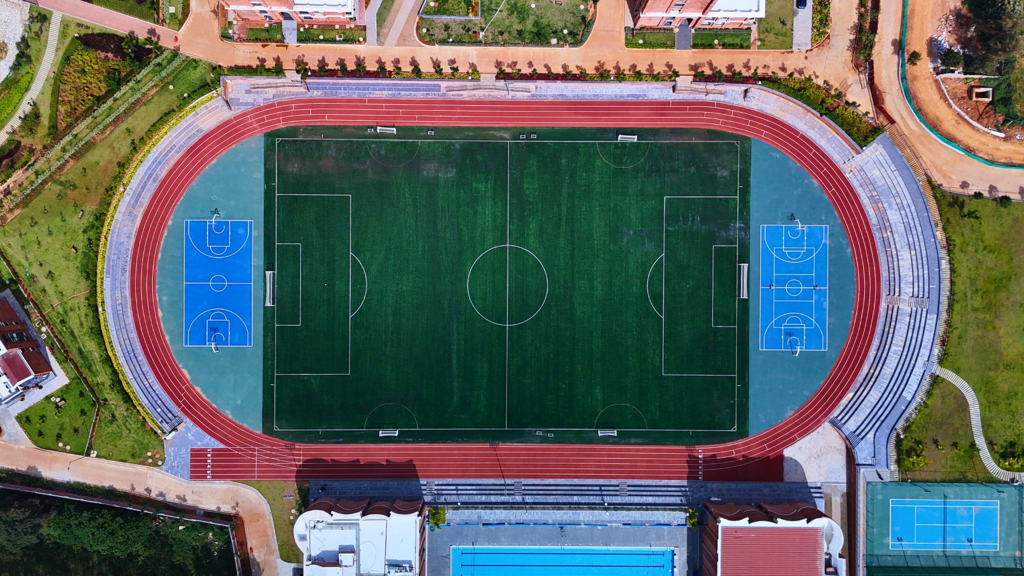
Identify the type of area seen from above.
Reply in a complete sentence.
The area seen from above is a sports ground.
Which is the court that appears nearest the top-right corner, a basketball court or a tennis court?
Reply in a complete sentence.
It looks like the court that appears nearest the top-right corner is a basketball court.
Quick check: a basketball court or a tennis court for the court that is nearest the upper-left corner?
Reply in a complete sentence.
I'd say the court that is nearest the upper-left corner is a basketball court.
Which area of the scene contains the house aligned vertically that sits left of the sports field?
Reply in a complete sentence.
The house aligned vertically that sits left of the sports field appears toward the left of the photo.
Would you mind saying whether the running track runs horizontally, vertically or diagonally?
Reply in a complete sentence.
The running track is oriented horizontally.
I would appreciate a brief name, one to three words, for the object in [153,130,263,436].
basketball court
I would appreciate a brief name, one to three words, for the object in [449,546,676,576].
swimming pool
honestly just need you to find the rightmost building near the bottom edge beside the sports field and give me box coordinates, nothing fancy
[704,503,846,576]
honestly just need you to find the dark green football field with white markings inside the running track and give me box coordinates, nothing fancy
[263,124,750,445]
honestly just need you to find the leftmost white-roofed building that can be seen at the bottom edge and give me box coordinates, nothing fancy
[294,496,427,576]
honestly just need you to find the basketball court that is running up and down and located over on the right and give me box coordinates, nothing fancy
[750,134,858,437]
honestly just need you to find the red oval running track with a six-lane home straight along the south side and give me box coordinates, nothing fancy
[129,98,881,481]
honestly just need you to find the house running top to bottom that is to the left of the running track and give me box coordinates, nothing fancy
[0,288,55,410]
